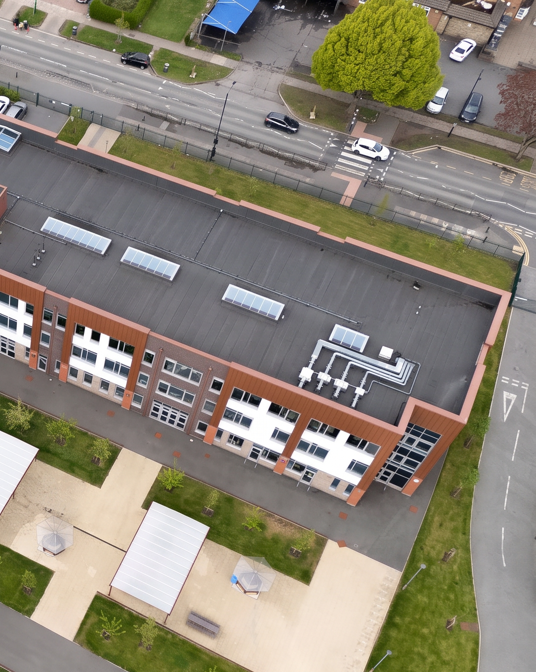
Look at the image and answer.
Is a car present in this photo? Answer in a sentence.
Yes, there's a car down there.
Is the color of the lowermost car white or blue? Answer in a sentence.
From above, the lowermost car appears white.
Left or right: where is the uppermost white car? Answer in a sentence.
The uppermost white car is on the right side of the image.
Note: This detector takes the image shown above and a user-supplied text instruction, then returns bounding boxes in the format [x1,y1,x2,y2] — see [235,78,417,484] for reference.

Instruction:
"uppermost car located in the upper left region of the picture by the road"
[120,49,151,69]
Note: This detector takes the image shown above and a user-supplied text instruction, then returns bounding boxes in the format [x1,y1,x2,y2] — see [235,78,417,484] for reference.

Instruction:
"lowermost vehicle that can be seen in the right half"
[353,138,390,162]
